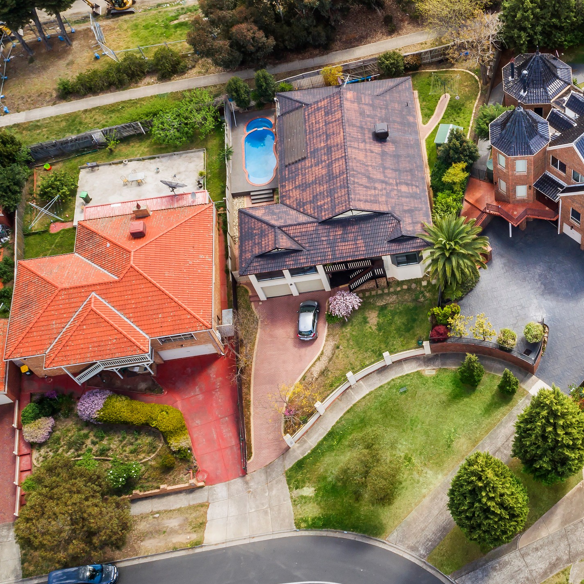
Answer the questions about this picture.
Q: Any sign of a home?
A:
Yes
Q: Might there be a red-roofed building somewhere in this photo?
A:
Yes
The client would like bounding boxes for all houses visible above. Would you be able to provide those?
[238,71,438,300]
[439,43,584,238]
[2,196,225,392]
